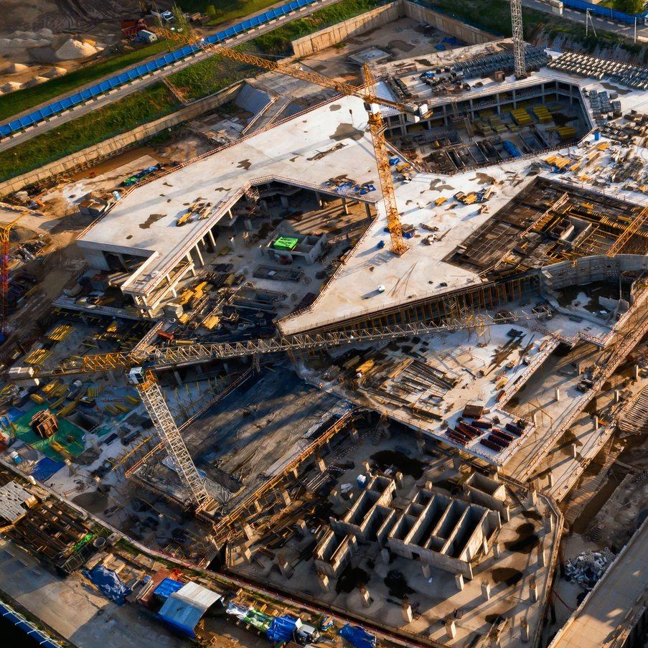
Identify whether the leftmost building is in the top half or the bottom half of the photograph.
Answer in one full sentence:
The bottom half of the photo is where the leftmost building is.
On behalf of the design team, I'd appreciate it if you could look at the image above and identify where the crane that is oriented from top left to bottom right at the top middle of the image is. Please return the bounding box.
[156,26,422,258]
